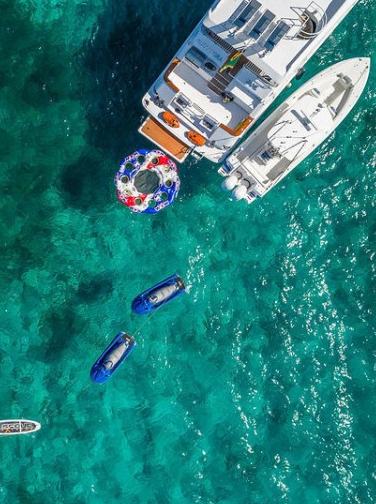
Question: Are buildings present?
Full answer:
No, the frame has no building in it.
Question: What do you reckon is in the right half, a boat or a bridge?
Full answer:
The feature located in the right half is a boat.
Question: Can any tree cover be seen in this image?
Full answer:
No, tree cover can't be seen anywhere here.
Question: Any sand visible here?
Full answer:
No, sand can't be seen anywhere here.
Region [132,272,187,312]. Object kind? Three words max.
boat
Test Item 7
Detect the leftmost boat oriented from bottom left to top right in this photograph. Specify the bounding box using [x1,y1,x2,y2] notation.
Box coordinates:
[93,329,137,382]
